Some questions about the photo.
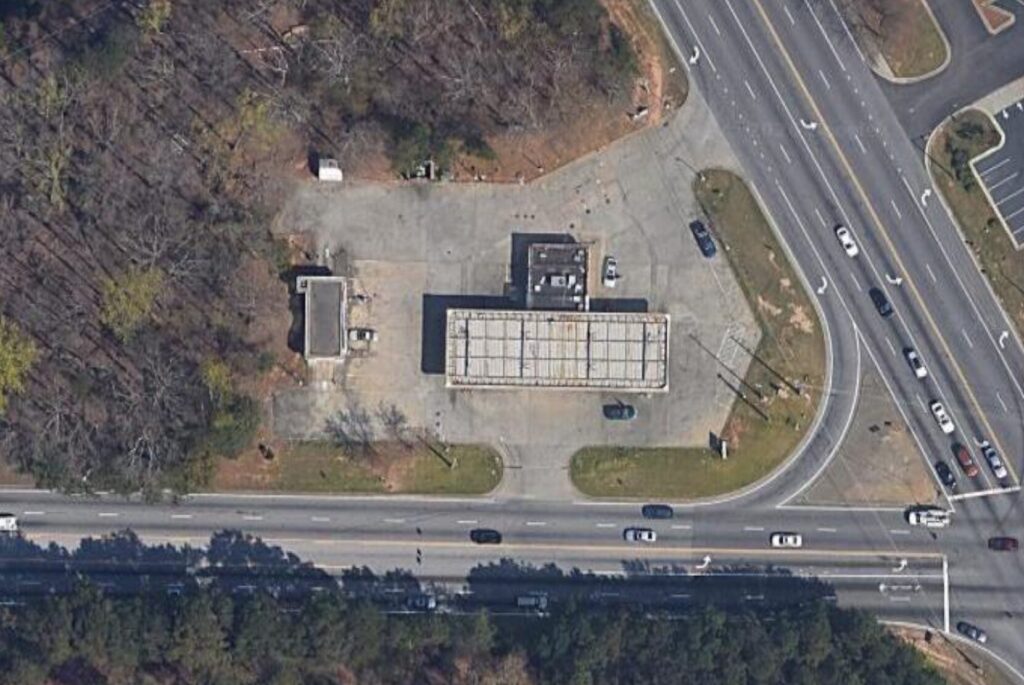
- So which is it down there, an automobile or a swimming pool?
automobile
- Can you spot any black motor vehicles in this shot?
Yes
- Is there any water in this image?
No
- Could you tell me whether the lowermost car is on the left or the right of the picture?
right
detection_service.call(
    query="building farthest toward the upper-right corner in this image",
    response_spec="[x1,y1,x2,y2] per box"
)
[527,245,594,312]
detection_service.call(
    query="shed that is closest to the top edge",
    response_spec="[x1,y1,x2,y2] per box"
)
[317,156,342,182]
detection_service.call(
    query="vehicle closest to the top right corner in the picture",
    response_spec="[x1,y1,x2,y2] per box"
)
[835,227,858,256]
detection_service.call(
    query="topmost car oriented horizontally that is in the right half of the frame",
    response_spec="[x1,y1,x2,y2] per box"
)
[604,405,635,419]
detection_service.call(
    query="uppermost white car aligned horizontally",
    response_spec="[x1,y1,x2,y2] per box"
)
[349,329,378,342]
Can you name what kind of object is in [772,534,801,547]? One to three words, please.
vehicle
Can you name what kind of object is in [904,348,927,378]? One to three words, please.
car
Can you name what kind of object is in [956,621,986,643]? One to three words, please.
car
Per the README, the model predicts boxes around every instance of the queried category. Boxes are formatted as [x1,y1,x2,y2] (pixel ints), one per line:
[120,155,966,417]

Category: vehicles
[869,288,892,318]
[988,537,1018,551]
[772,534,801,547]
[907,510,949,526]
[981,445,1006,478]
[604,405,635,419]
[953,444,978,476]
[930,401,953,433]
[642,504,673,518]
[349,329,378,342]
[934,459,957,489]
[471,530,501,544]
[625,529,656,542]
[956,621,986,643]
[904,348,927,378]
[835,227,858,256]
[0,515,20,531]
[604,257,621,286]
[690,221,715,257]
